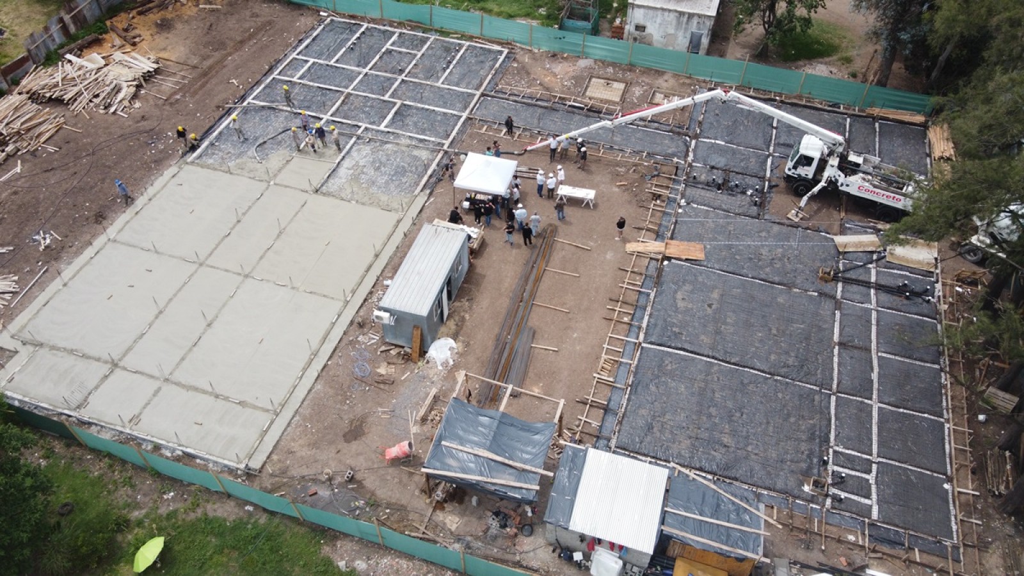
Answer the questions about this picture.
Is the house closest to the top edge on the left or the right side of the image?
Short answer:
right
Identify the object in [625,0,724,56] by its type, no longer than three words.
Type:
house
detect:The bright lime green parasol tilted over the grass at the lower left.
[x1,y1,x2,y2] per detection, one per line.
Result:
[132,534,175,575]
